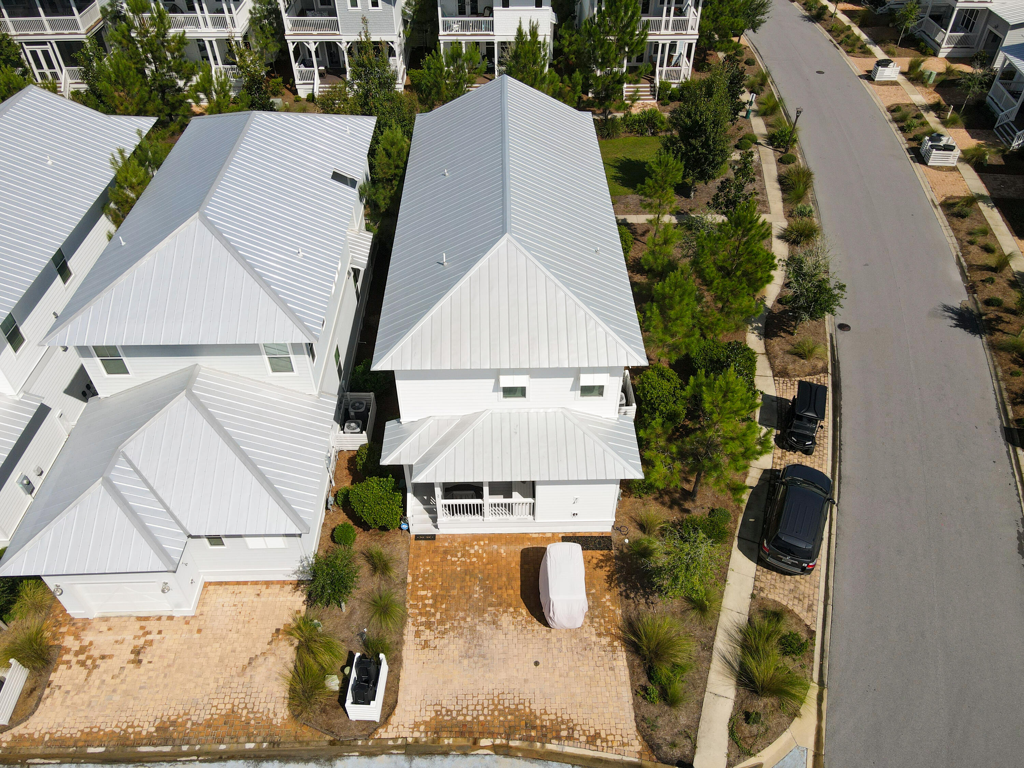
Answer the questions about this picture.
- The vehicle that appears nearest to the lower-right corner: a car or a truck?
car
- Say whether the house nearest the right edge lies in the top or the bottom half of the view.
top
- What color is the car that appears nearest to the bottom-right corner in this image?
black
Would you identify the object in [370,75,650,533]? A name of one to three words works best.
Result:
house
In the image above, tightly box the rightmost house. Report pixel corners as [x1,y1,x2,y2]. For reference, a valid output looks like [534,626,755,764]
[978,41,1024,150]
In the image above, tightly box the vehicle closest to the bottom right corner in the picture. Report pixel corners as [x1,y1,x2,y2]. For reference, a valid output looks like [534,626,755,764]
[760,467,837,581]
